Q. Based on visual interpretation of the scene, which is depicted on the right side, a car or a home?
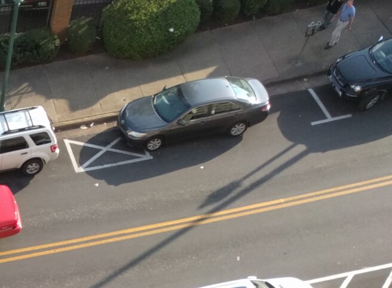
car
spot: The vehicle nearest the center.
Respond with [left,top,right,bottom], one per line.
[116,74,274,150]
